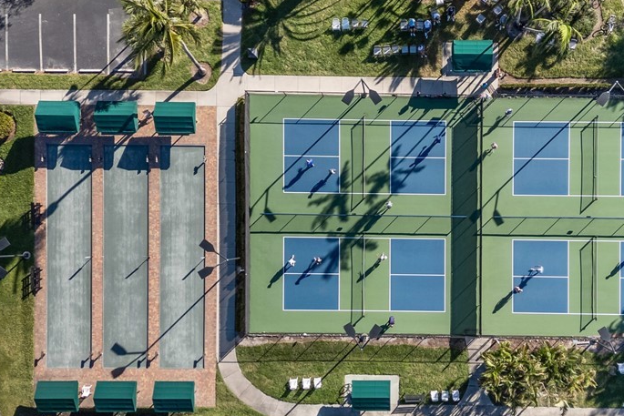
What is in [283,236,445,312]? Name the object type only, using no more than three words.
sports court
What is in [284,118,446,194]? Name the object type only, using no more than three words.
sports court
